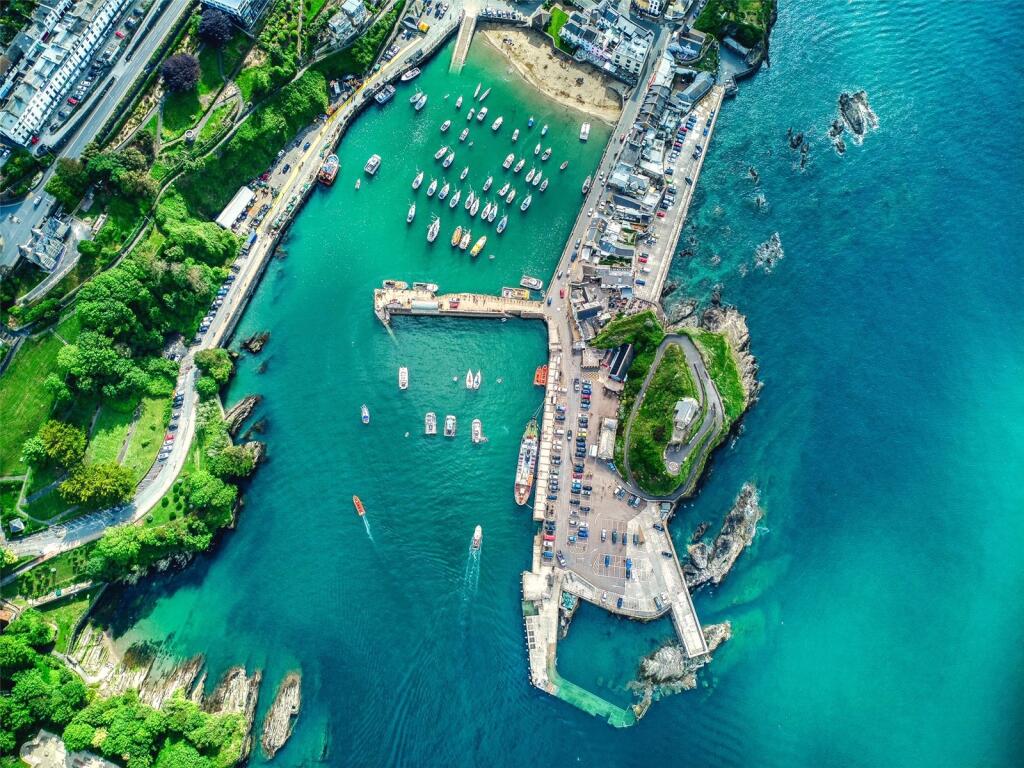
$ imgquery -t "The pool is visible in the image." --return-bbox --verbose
[560,591,576,611]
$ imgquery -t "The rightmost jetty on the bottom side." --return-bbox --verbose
[670,595,711,657]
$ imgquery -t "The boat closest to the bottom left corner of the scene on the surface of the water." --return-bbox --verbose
[353,496,366,517]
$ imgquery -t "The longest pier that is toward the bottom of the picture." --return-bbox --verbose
[522,566,634,727]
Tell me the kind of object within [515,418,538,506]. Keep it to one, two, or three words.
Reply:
ship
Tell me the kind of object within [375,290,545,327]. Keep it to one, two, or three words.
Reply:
pier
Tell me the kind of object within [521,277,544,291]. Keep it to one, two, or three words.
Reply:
boat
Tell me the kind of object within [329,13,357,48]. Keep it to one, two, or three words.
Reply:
house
